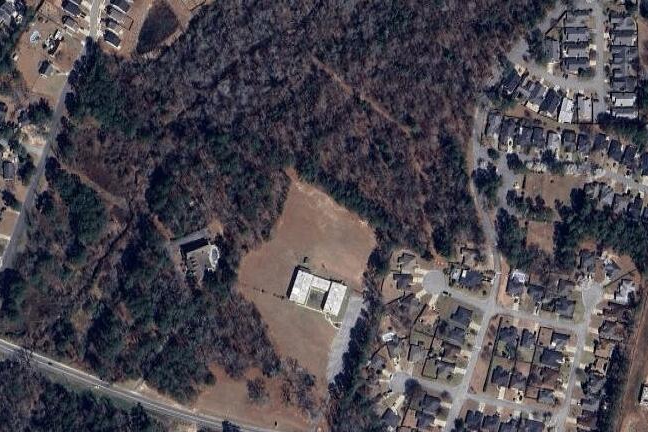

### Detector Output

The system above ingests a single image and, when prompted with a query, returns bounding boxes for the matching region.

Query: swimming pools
[209,245,220,267]
[31,30,41,42]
